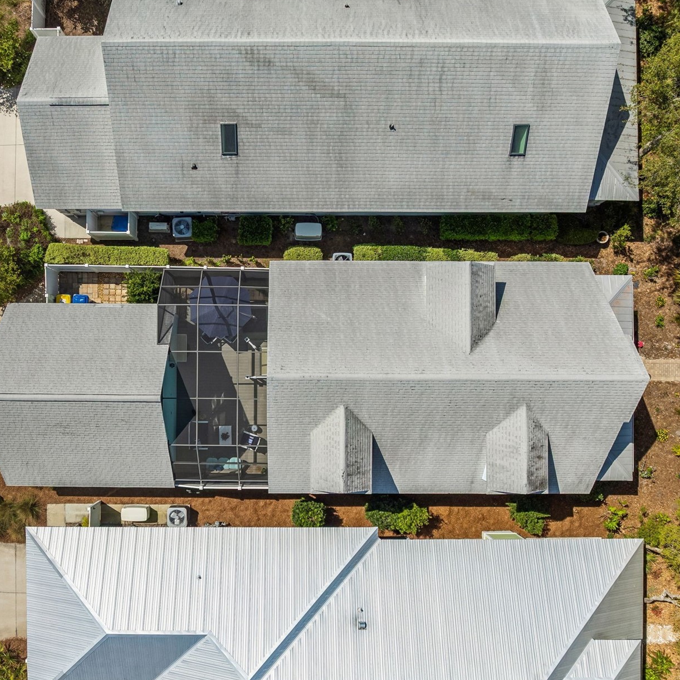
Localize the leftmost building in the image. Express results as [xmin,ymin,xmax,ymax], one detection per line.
[0,307,177,489]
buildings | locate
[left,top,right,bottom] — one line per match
[17,0,640,226]
[0,307,177,489]
[267,261,649,494]
[25,526,646,680]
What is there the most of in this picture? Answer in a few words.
buildings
